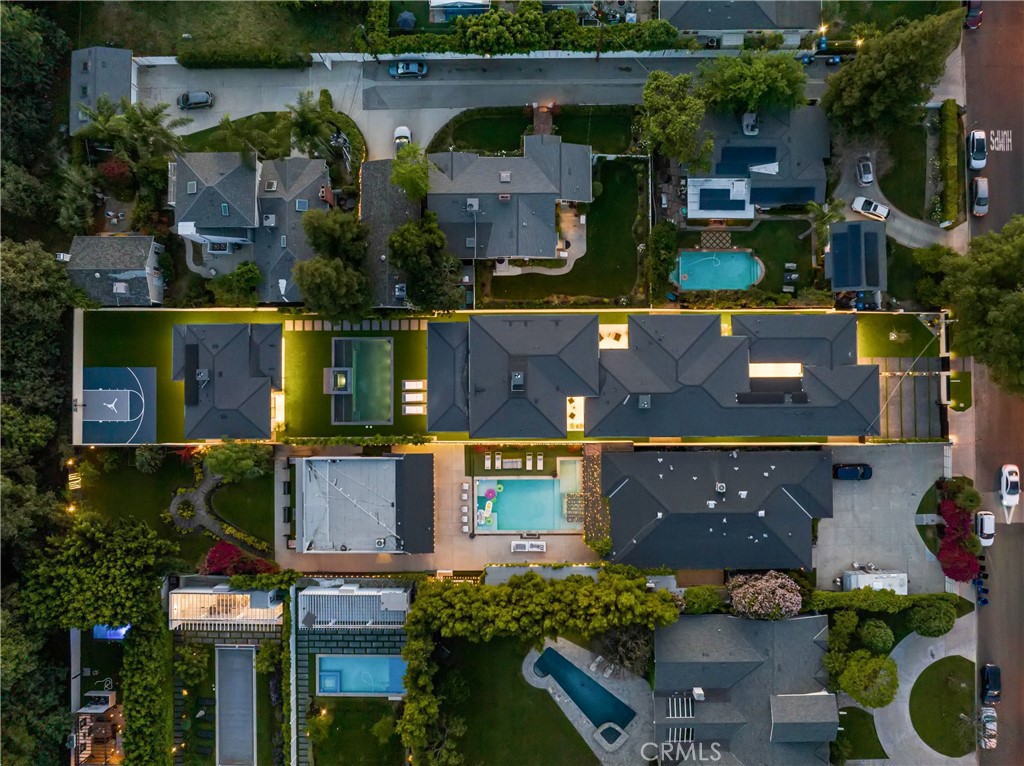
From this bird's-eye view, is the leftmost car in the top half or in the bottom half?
top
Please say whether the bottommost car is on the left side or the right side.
right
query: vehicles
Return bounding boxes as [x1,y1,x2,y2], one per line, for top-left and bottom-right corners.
[392,122,411,155]
[853,150,876,189]
[969,177,992,218]
[848,194,893,222]
[973,510,998,546]
[978,661,1003,705]
[837,568,907,594]
[961,0,985,35]
[966,128,989,171]
[832,461,872,481]
[177,89,216,111]
[977,706,1000,749]
[997,463,1021,504]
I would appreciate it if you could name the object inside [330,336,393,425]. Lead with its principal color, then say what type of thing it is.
green swimming pool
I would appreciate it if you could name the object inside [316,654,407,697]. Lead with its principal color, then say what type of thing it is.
blue swimming pool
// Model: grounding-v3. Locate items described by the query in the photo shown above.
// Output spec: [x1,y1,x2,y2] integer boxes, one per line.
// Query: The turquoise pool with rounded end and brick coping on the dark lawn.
[674,250,767,291]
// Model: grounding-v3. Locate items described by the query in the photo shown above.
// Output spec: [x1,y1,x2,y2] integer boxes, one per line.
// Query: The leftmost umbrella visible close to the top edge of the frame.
[397,13,415,31]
